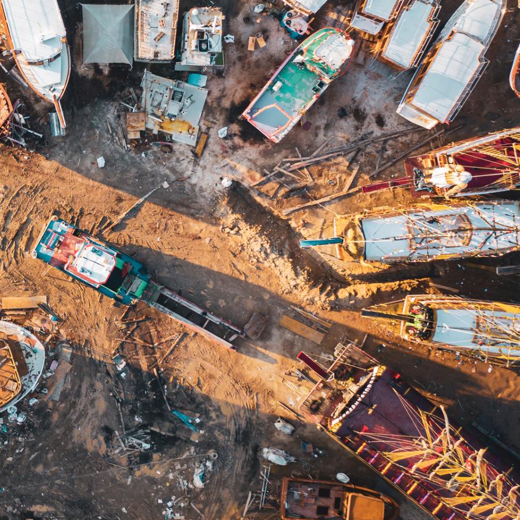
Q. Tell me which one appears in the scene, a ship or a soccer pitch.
ship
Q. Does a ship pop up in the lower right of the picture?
Yes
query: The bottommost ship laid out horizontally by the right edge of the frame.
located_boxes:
[360,293,520,370]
